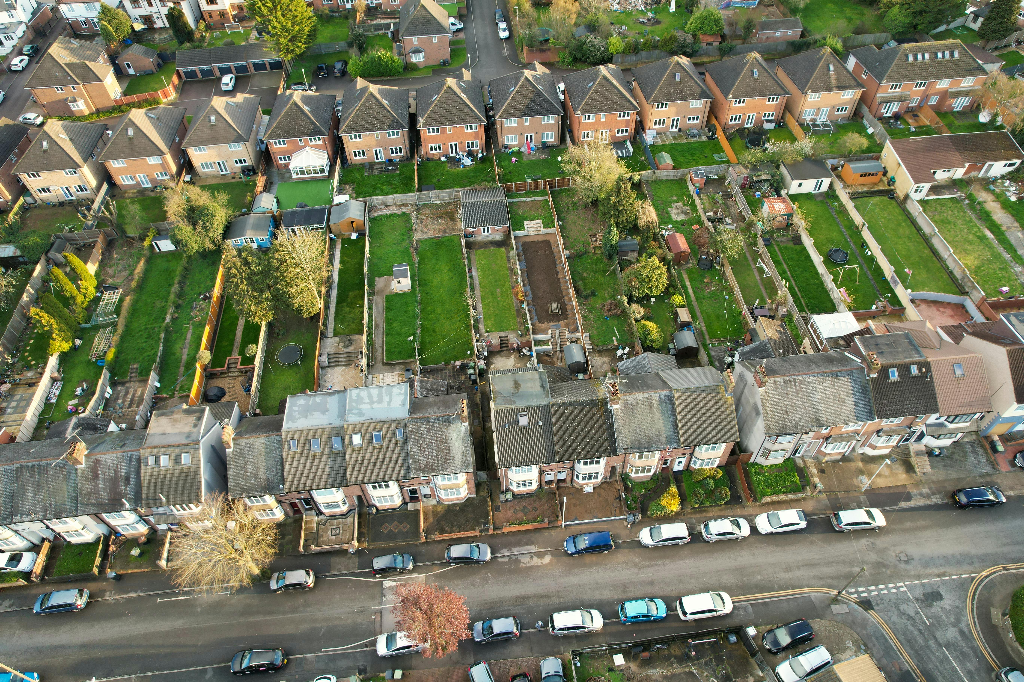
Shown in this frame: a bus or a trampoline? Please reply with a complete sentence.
Looking from above, you can make out a trampoline.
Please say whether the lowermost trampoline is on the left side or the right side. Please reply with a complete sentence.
The lowermost trampoline is on the left side of the image.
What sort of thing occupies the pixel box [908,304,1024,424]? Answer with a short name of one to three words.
house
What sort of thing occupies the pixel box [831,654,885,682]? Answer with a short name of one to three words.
shed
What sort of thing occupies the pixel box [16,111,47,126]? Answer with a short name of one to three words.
car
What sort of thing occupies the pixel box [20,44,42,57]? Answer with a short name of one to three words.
vehicle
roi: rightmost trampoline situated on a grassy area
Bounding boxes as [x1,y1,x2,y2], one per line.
[824,240,855,266]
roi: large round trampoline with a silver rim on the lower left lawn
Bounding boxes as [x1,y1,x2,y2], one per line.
[273,342,305,370]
